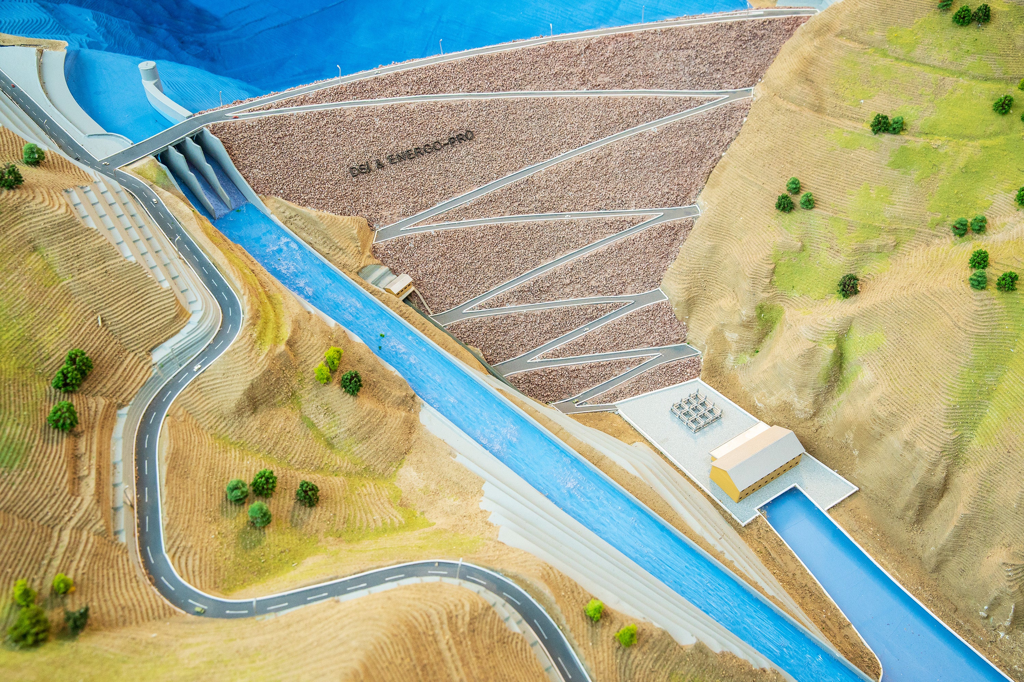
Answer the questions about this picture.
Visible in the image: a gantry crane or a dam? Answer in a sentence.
Visible in the photo is a dam.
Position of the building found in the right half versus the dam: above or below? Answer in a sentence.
From this view, the building found in the right half can be seen below the dam.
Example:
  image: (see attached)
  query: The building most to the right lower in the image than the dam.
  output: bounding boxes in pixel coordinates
[708,420,807,503]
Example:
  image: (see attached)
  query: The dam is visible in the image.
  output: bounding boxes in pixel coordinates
[182,3,811,408]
